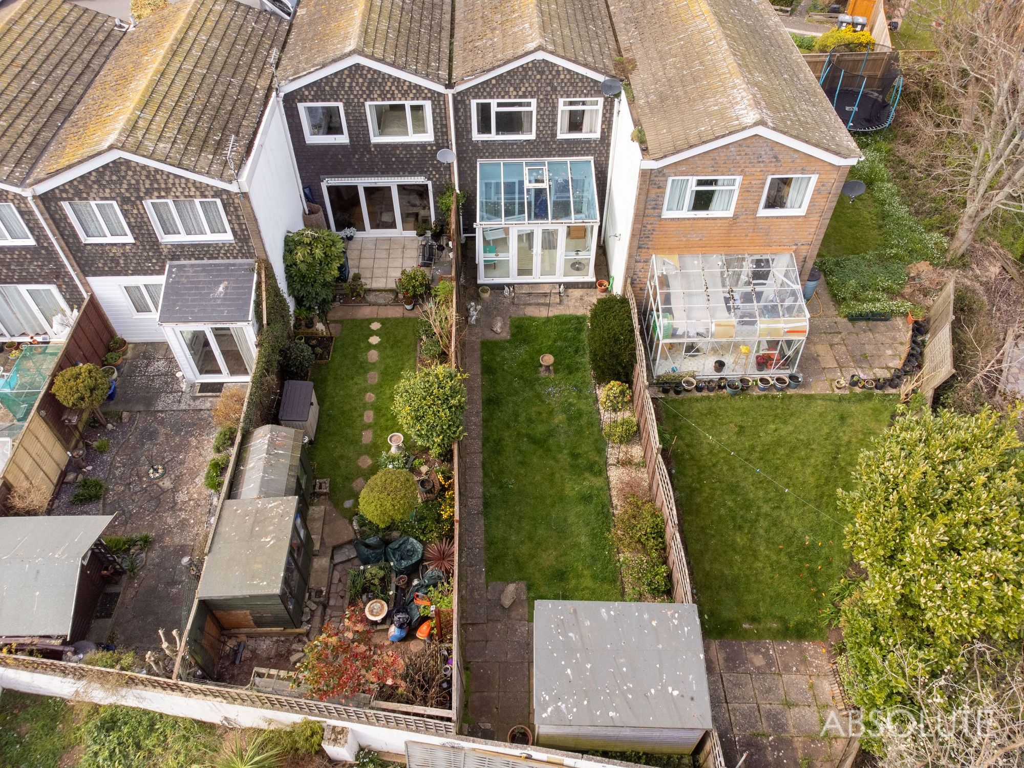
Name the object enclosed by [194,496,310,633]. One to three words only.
shed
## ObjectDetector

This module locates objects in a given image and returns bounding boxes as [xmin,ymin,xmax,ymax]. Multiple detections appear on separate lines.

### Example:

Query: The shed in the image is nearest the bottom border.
[533,597,712,754]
